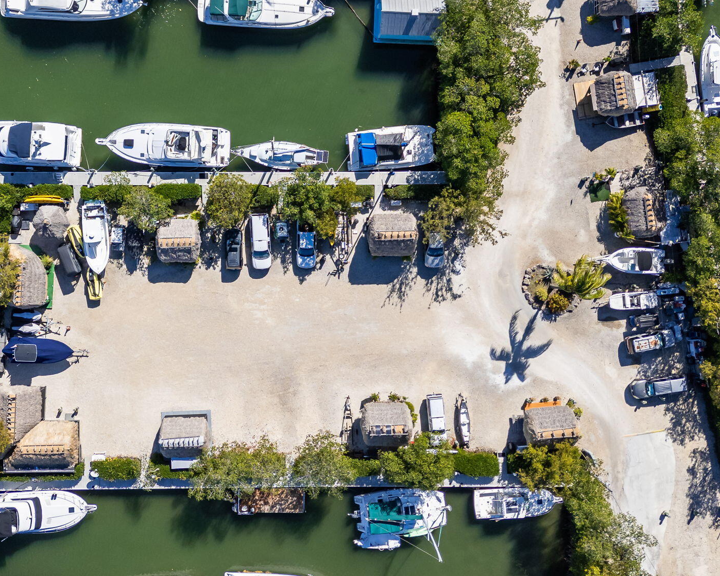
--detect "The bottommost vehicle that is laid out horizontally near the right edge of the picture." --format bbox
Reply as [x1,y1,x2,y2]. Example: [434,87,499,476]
[628,373,689,400]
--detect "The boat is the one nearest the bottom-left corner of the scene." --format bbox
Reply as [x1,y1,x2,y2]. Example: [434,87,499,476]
[0,487,99,541]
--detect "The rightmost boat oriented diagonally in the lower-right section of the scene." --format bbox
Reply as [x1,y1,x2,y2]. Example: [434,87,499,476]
[583,450,601,473]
